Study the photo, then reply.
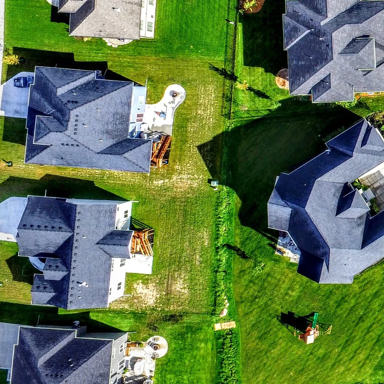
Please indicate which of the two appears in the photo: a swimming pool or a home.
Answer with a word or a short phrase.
home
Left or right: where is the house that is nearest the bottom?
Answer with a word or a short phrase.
left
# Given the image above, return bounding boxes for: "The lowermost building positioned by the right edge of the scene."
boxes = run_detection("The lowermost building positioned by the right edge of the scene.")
[265,119,384,284]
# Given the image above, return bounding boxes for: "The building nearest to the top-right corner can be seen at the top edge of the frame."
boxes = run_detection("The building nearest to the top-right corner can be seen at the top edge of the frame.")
[282,0,384,103]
